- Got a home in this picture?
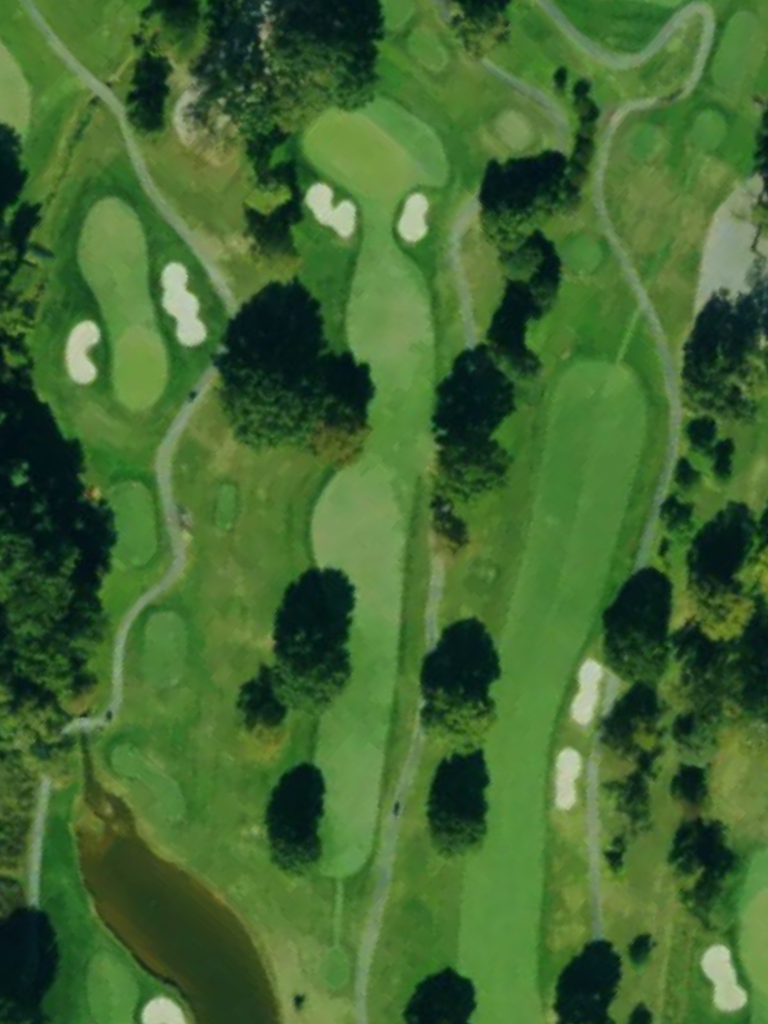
No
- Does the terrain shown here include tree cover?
Yes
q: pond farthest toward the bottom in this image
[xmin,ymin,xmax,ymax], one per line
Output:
[78,707,281,1024]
